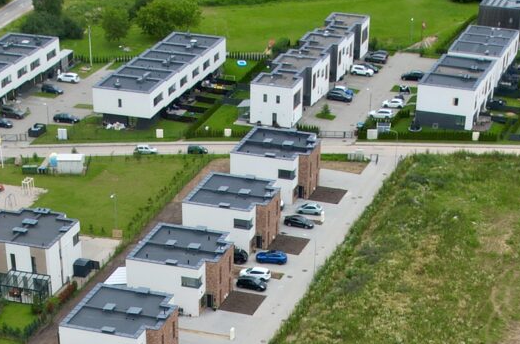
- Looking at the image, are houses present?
Yes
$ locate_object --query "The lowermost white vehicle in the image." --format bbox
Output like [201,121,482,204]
[240,266,272,282]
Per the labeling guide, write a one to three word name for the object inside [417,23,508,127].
house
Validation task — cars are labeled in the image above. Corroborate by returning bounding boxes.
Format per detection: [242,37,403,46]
[364,54,386,65]
[350,65,373,76]
[40,84,62,94]
[233,249,256,265]
[401,72,425,82]
[0,107,24,119]
[256,250,287,265]
[282,217,313,230]
[280,199,297,212]
[56,72,80,83]
[237,277,267,292]
[133,145,157,156]
[364,64,383,74]
[328,90,352,102]
[240,266,272,282]
[295,205,325,217]
[182,145,209,156]
[380,99,405,109]
[334,86,355,95]
[0,118,13,128]
[53,114,79,124]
